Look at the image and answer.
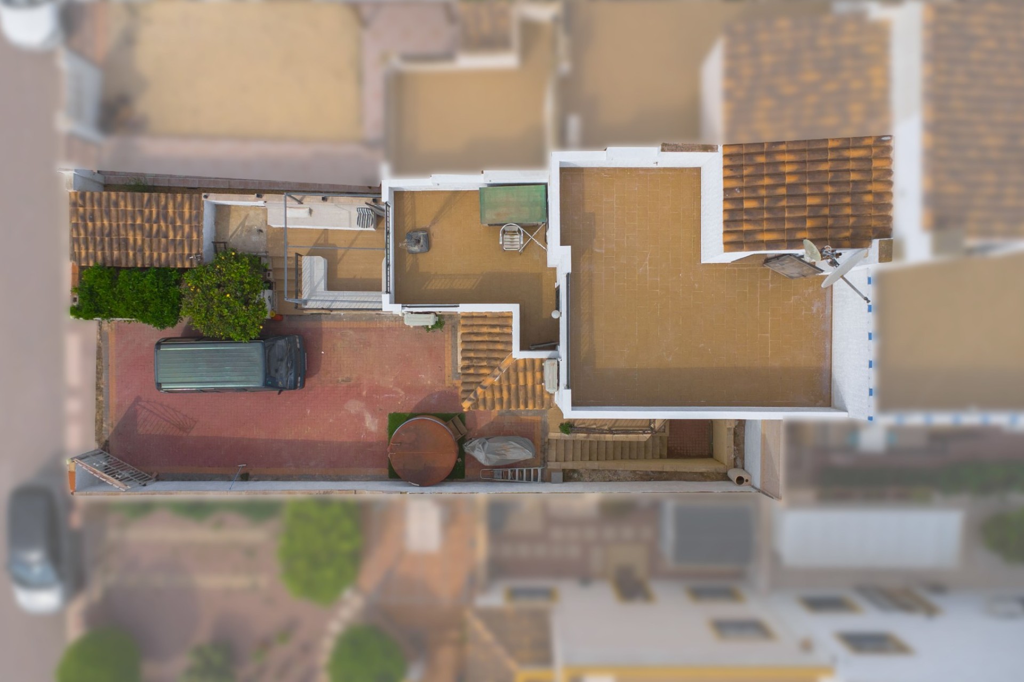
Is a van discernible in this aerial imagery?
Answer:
Yes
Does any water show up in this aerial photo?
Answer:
No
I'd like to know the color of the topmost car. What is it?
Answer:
white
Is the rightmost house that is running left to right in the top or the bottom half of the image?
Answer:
bottom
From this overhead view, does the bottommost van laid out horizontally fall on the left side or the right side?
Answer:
left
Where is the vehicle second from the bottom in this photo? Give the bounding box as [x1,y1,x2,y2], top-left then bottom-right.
[154,332,308,398]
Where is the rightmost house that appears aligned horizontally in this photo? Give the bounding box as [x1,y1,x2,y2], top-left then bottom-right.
[784,585,1024,682]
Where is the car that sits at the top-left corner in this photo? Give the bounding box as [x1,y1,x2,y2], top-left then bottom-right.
[1,0,65,55]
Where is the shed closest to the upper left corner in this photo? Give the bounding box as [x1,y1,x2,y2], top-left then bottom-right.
[70,190,215,269]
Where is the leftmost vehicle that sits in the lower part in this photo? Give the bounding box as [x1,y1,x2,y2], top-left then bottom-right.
[2,482,74,610]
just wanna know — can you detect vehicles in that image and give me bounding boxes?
[1,0,65,55]
[2,482,74,610]
[154,332,308,398]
